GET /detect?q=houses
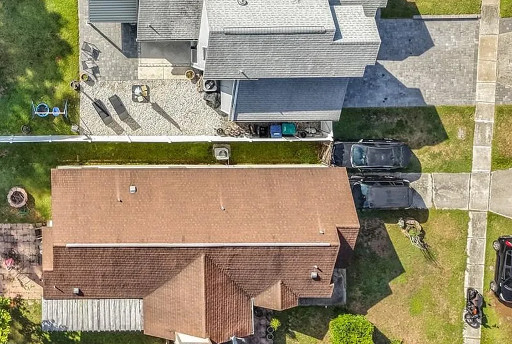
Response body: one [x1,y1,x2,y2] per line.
[134,0,388,126]
[43,163,360,344]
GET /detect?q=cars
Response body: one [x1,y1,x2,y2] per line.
[348,175,415,213]
[328,136,414,177]
[488,233,512,308]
